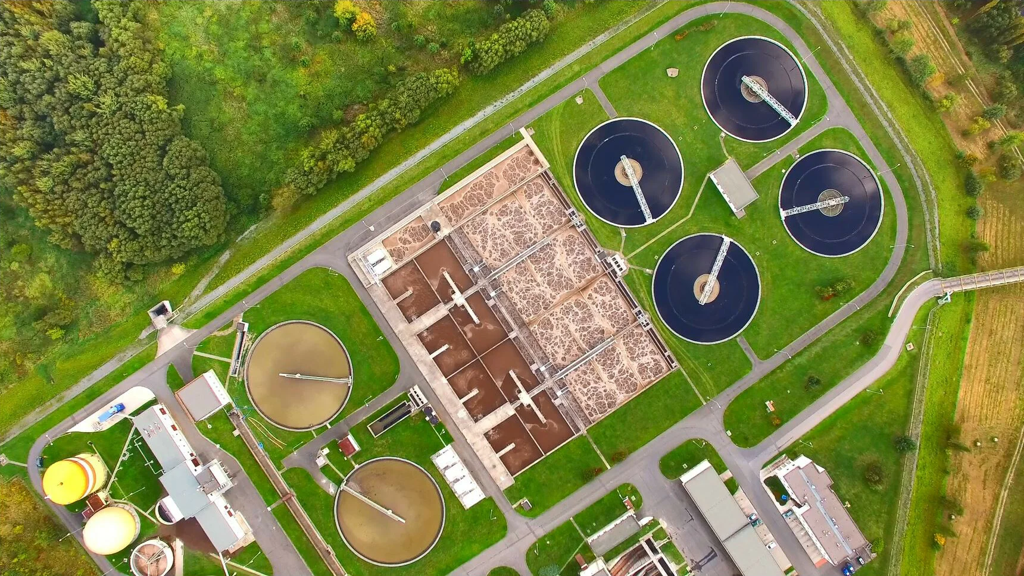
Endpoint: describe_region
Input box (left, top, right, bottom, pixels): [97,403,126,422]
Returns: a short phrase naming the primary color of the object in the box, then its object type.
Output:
blue vehicle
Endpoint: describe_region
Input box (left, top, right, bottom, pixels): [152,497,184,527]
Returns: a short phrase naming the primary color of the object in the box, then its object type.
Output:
white storage tank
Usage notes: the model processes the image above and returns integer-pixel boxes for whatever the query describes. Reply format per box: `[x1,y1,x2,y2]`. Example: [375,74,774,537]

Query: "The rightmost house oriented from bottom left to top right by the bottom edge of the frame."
[587,512,641,557]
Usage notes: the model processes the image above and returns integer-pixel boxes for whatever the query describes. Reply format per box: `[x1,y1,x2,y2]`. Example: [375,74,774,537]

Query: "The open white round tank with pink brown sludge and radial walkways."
[128,540,173,576]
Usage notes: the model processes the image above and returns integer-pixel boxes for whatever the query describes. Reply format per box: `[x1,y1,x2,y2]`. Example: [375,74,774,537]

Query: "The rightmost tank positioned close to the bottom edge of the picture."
[333,457,445,569]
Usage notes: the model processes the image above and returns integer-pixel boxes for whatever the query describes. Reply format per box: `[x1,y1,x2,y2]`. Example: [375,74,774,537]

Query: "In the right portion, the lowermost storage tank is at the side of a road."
[652,233,763,344]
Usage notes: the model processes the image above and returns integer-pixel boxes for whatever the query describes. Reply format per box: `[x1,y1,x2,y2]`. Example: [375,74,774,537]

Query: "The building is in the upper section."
[708,158,759,212]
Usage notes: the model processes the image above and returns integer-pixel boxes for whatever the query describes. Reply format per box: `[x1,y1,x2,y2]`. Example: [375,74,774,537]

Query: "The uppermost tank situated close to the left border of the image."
[42,451,108,506]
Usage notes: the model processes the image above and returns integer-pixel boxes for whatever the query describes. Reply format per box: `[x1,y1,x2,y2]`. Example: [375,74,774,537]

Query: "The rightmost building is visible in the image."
[777,454,866,566]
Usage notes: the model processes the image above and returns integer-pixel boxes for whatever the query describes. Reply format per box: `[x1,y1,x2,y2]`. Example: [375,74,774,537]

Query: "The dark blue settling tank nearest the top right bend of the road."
[701,34,809,142]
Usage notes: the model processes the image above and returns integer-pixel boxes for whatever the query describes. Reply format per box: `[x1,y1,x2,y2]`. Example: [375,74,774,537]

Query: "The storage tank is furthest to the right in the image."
[778,149,886,256]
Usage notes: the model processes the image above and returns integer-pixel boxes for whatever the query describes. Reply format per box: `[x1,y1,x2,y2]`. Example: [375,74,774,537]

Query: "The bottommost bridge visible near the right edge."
[943,265,1024,295]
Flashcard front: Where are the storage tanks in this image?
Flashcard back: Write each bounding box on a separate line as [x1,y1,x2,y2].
[574,116,685,227]
[652,233,763,344]
[333,457,445,569]
[152,497,184,527]
[84,502,141,555]
[701,34,809,142]
[778,149,886,256]
[243,322,353,431]
[42,451,108,506]
[128,540,173,576]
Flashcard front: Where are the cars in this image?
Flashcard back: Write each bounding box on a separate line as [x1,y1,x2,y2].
[783,510,793,517]
[751,519,762,527]
[747,514,757,522]
[842,567,850,576]
[847,563,855,574]
[856,556,865,567]
[36,456,43,467]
